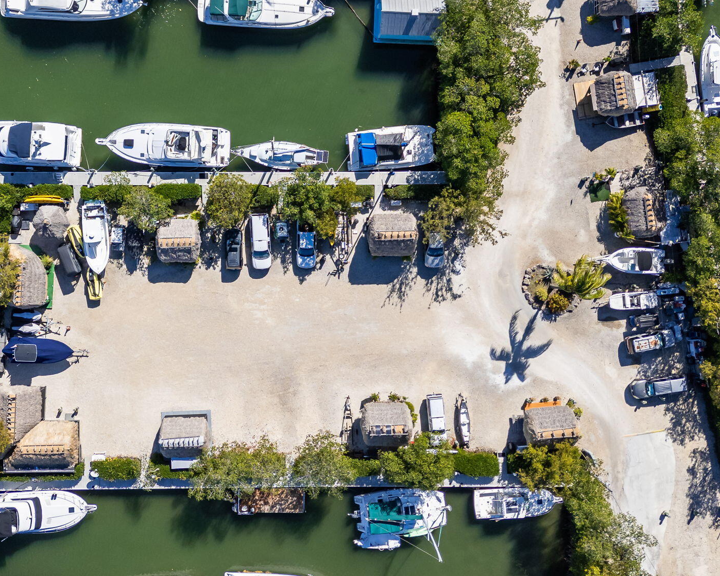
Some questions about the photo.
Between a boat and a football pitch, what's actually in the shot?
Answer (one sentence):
The image shows a boat.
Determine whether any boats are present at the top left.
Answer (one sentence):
Yes, the scene does show a boat at the top left.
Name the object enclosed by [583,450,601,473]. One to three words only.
boat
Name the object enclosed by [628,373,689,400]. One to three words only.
truck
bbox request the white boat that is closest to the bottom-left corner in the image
[0,487,99,541]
